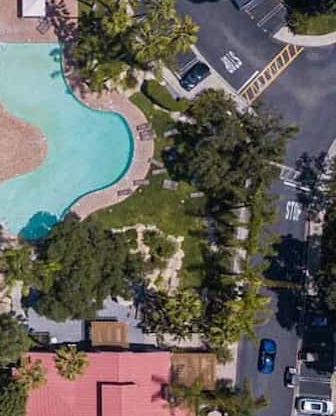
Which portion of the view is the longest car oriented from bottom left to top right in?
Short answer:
top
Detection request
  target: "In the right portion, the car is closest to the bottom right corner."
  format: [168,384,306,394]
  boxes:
[295,396,333,415]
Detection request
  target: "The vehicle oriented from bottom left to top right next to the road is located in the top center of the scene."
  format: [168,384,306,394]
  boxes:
[177,60,211,90]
